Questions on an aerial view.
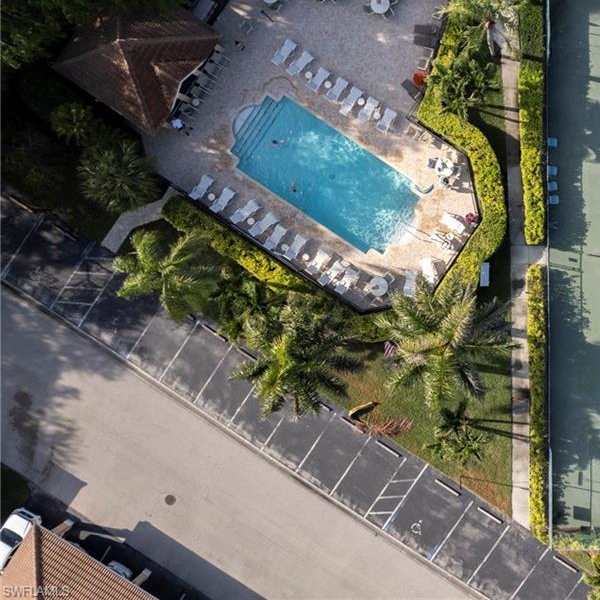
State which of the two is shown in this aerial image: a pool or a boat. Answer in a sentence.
Of the two, only a pool appears.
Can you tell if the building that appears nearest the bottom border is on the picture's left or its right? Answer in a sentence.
The building that appears nearest the bottom border sits on the left side.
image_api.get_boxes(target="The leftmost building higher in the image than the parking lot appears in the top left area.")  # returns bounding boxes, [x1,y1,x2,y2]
[50,0,234,140]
